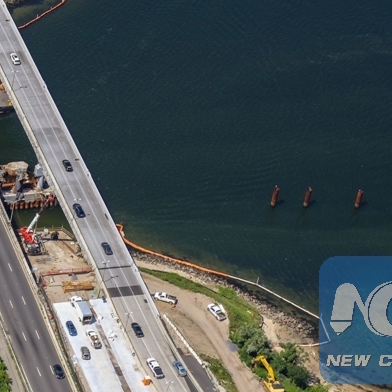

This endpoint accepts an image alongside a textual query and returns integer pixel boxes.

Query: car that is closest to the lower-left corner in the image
[53,364,65,379]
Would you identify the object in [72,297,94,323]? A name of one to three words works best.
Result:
truck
